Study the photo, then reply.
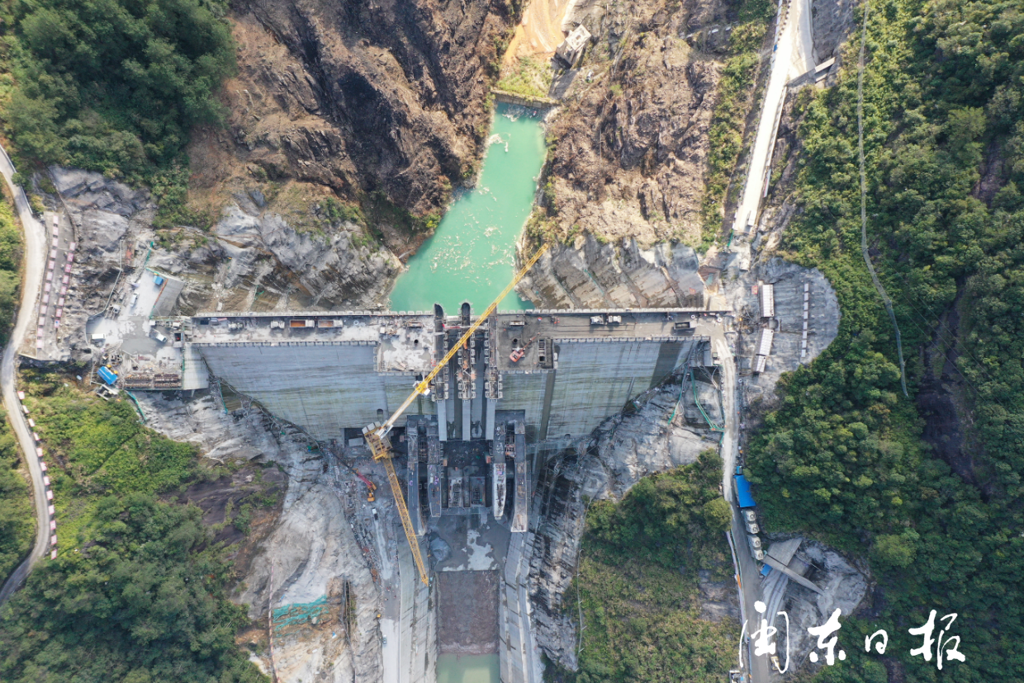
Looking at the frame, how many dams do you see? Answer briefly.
1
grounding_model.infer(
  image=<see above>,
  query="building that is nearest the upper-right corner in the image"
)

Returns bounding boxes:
[762,284,777,317]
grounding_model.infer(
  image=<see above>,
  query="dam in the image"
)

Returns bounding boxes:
[187,298,734,467]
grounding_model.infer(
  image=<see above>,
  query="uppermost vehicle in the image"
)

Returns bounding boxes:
[746,207,758,228]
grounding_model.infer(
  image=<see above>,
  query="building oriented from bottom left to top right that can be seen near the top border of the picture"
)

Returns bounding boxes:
[557,24,591,65]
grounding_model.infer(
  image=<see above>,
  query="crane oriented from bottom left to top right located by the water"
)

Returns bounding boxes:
[377,245,548,436]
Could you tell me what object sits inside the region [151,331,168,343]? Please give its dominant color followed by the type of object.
white vehicle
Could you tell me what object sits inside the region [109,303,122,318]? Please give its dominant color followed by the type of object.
white vehicle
